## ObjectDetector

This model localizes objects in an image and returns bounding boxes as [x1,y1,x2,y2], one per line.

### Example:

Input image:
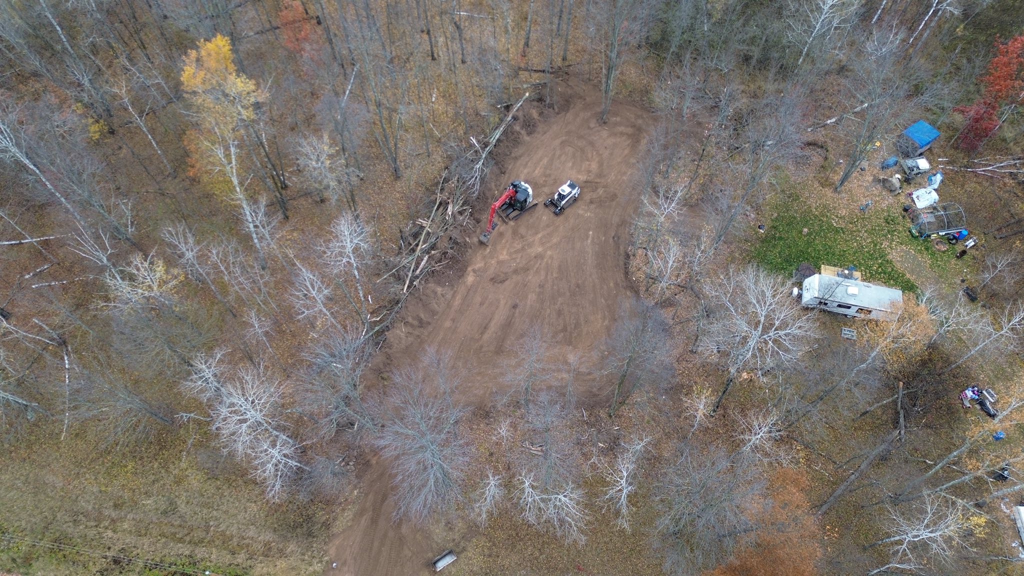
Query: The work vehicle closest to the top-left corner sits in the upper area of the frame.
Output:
[478,182,536,246]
